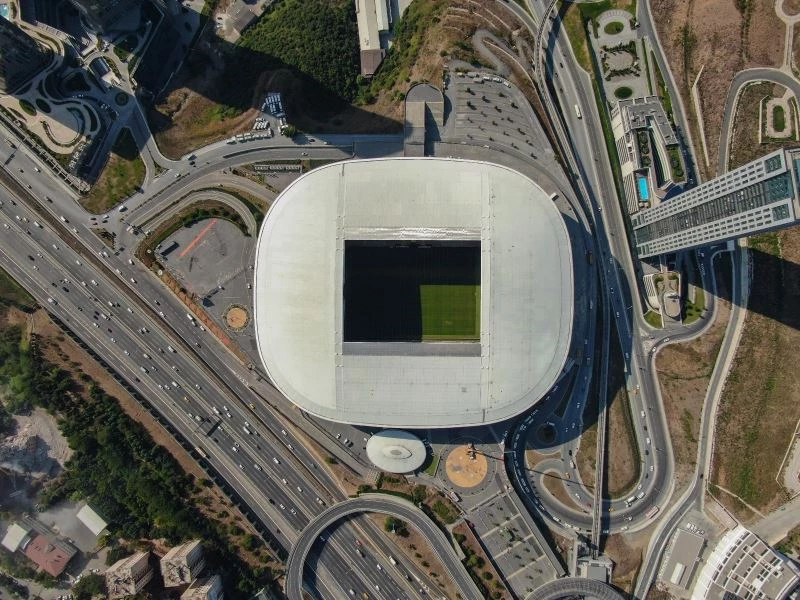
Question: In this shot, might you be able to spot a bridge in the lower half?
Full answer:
Yes, a bridge can be seen in the lower half.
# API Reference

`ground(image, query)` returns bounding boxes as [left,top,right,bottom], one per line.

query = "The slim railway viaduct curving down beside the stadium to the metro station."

[534,0,609,556]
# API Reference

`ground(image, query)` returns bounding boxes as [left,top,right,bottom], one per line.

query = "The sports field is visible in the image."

[345,251,474,336]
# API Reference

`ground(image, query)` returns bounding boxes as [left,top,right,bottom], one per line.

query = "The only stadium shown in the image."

[254,157,574,429]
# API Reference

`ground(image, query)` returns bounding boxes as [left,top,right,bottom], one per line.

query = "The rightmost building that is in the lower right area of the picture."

[684,522,800,600]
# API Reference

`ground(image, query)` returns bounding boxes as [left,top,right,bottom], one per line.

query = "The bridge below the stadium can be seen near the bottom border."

[283,495,487,600]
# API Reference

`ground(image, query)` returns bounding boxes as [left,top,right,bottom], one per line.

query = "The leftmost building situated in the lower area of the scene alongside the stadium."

[366,429,427,473]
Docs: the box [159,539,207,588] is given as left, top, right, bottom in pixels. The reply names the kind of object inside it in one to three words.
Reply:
building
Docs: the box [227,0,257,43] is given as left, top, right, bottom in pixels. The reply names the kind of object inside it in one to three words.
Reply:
house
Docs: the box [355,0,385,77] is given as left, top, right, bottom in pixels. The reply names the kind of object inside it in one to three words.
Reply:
shed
